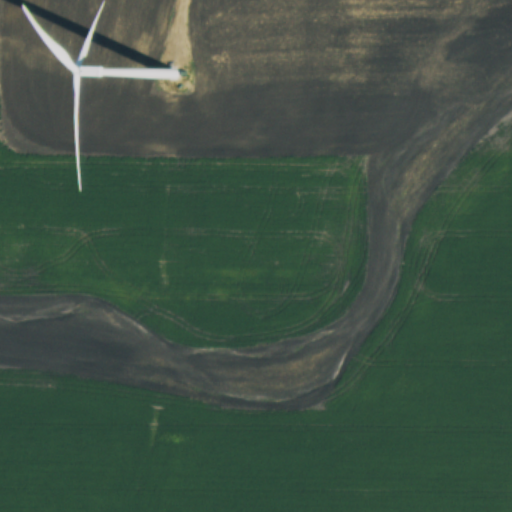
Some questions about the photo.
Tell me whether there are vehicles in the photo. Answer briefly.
No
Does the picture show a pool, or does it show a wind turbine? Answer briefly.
wind turbine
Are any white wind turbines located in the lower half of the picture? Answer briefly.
No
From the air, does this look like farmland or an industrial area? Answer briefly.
farmland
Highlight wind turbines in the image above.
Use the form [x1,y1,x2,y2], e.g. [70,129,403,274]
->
[22,0,181,192]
